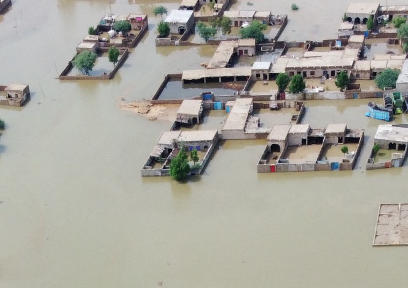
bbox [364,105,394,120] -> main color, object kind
blue vehicle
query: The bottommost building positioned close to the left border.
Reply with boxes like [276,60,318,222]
[6,83,30,99]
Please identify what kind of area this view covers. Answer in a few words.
residential area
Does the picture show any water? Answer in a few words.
Yes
